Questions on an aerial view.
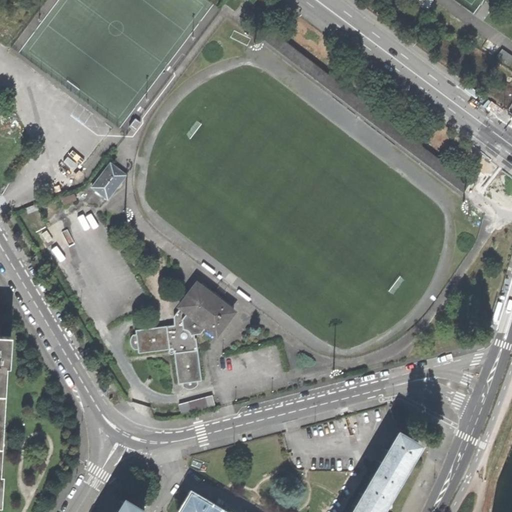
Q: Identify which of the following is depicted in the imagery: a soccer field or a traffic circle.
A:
soccer field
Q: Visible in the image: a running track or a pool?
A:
running track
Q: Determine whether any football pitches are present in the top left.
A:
Yes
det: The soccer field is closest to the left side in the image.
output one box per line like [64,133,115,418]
[19,0,215,128]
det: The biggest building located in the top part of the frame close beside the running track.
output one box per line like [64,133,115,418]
[91,163,126,201]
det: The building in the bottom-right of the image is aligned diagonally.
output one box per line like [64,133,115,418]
[341,430,426,512]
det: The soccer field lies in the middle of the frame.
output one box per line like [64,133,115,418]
[145,66,446,348]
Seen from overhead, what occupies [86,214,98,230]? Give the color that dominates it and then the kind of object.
white vehicle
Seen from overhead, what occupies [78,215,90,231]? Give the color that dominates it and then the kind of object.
white vehicle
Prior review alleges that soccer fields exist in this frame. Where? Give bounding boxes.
[19,0,215,128]
[145,66,446,348]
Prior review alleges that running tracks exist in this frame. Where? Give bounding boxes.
[134,48,456,356]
